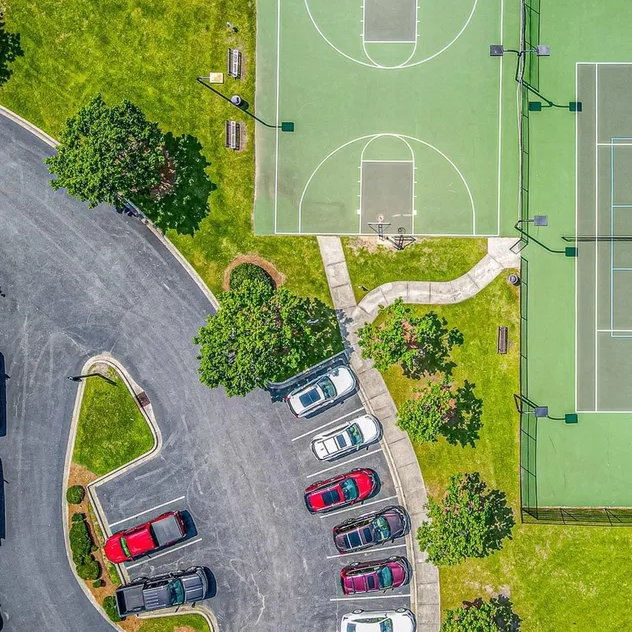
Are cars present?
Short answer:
Yes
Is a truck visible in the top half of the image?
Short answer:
No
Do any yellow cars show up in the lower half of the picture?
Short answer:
No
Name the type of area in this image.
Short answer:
sports ground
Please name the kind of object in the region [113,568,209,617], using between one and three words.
truck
